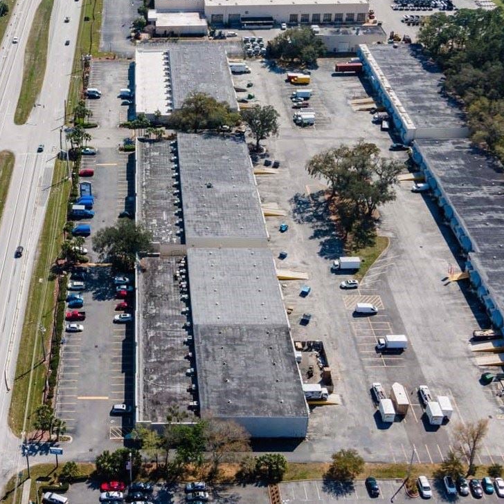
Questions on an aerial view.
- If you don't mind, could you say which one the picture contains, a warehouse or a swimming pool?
warehouse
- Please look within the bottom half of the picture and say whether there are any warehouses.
Yes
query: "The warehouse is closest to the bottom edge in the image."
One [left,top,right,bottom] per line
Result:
[136,247,309,441]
